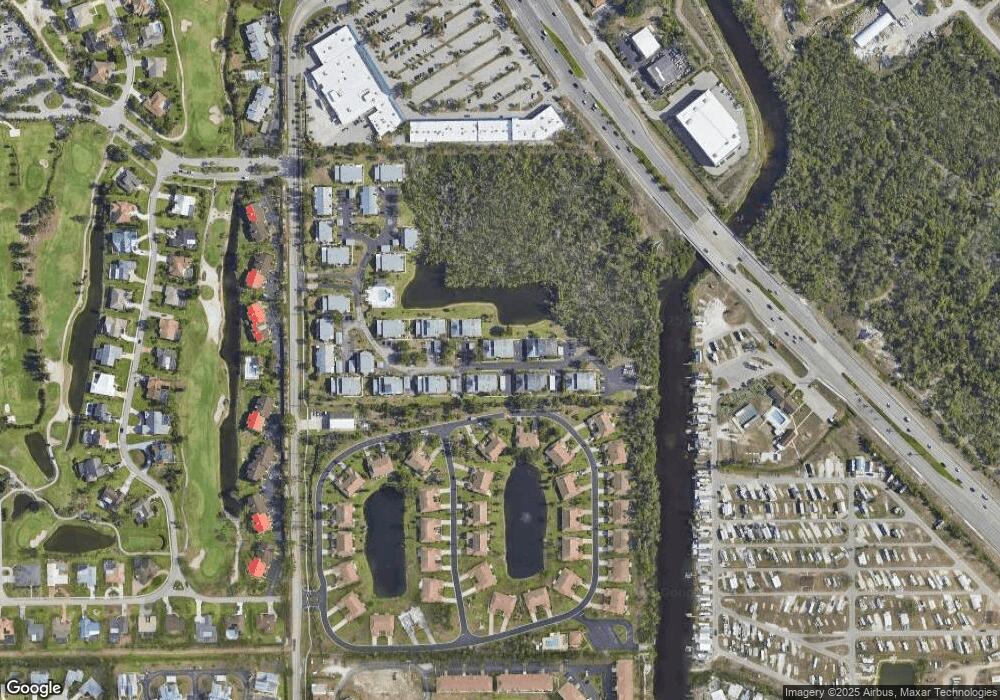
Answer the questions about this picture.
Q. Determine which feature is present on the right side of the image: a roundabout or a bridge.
bridge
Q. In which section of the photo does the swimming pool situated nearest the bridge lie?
right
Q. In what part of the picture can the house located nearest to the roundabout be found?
top left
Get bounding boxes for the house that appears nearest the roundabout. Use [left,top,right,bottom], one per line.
[85,61,114,82]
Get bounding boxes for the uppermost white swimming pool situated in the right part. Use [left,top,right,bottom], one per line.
[761,404,788,431]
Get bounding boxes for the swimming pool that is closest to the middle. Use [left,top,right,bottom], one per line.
[368,287,394,307]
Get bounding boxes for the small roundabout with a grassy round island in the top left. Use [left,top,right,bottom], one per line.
[33,87,75,118]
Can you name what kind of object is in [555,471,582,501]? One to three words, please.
house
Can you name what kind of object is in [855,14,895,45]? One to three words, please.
shed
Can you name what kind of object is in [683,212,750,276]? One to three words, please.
bridge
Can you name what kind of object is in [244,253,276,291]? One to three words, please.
building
